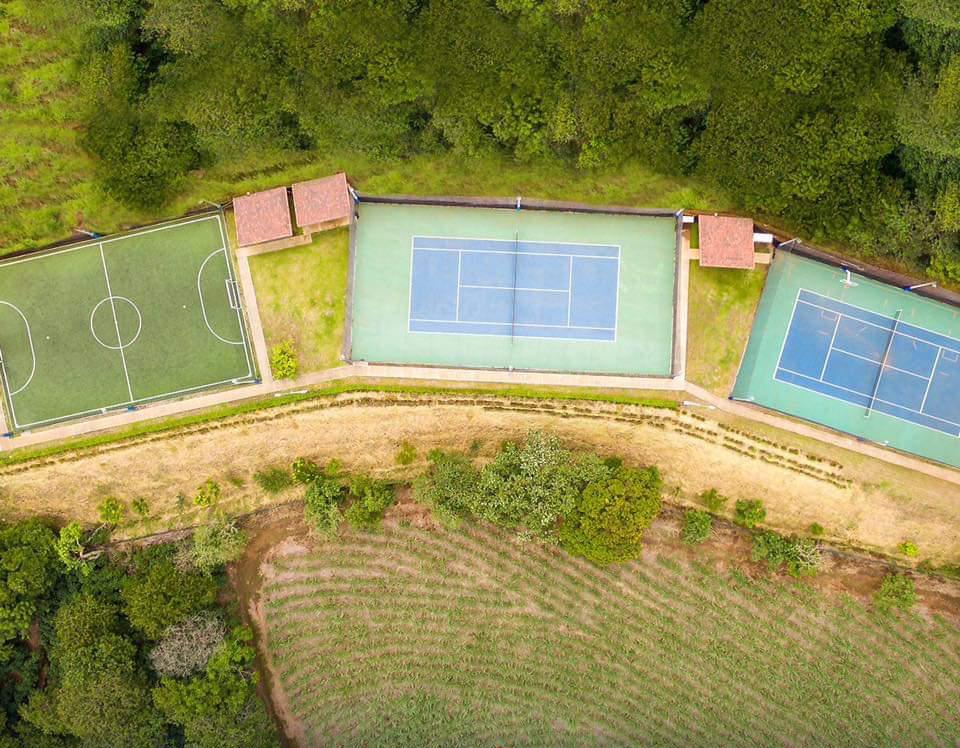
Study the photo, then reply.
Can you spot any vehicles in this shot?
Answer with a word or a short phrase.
No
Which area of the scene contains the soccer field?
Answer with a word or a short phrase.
left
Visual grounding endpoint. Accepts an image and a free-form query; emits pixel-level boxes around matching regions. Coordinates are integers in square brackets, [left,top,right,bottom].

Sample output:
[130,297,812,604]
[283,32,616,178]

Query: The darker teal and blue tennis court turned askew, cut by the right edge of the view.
[734,250,960,468]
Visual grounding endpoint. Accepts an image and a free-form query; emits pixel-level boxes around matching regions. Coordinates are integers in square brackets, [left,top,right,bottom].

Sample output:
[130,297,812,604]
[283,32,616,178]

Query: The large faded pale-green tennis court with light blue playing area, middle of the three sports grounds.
[350,203,676,377]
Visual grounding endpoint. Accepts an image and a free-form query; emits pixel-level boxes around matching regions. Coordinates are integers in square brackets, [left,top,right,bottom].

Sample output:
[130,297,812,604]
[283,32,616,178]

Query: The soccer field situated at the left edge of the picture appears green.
[0,208,262,435]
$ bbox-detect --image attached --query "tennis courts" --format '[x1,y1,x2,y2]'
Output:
[350,203,676,377]
[734,250,960,468]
